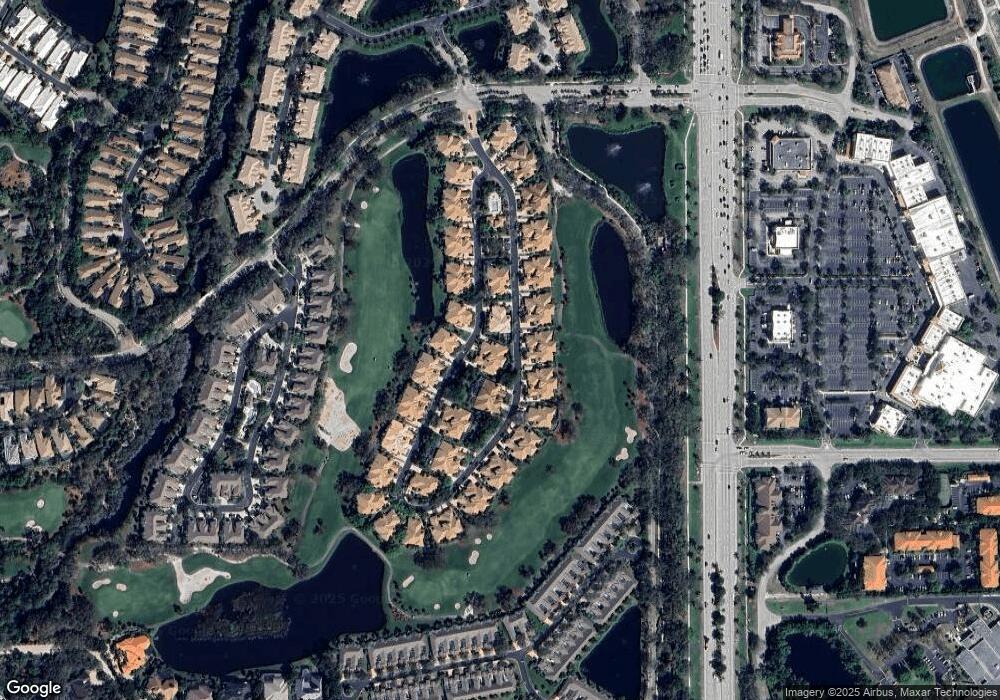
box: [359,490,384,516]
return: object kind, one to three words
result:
house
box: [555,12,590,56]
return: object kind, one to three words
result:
building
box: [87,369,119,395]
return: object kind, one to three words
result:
house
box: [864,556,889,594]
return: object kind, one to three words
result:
building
